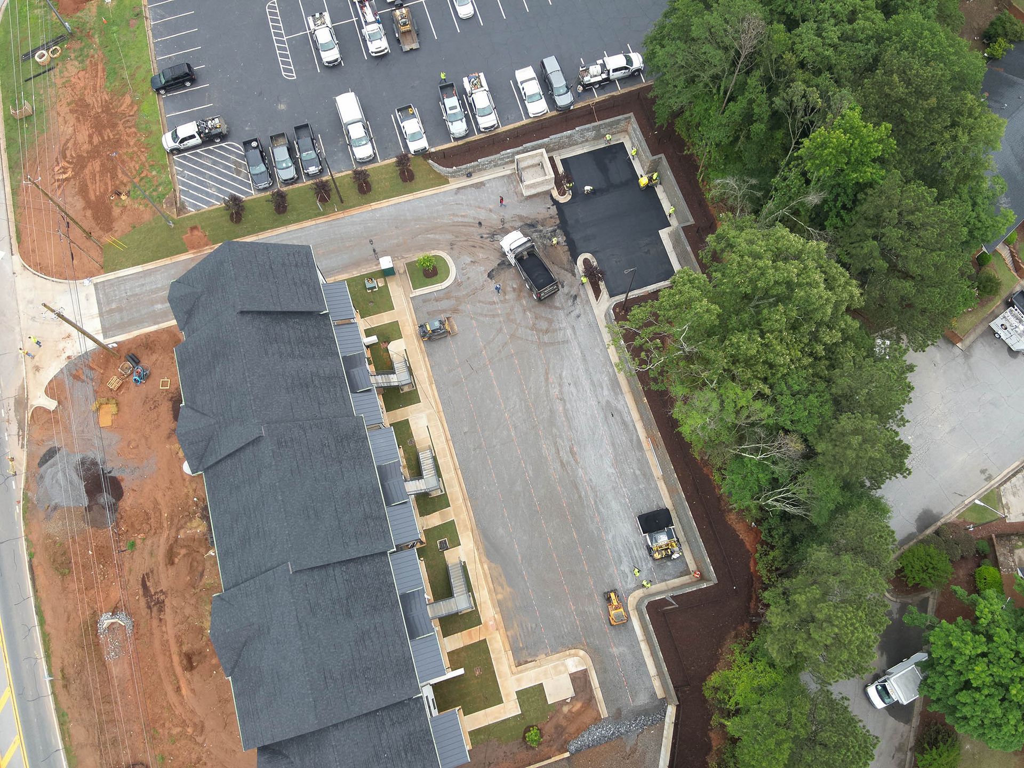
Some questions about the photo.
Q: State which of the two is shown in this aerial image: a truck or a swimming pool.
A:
truck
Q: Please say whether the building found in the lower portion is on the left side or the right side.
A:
left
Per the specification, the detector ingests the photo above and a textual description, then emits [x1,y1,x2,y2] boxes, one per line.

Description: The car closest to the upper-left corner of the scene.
[150,64,199,94]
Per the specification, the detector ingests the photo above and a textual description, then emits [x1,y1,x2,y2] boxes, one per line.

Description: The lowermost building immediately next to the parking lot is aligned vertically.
[160,236,481,768]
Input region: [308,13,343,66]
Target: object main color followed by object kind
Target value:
white truck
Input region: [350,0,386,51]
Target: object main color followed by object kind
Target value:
white truck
